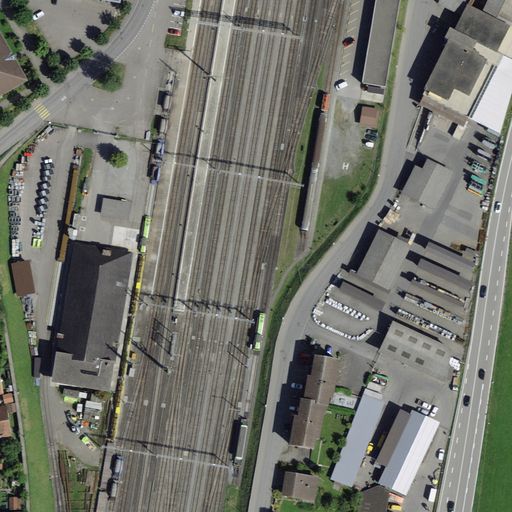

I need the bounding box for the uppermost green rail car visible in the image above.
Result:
[139,214,152,254]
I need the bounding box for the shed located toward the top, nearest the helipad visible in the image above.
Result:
[360,106,379,128]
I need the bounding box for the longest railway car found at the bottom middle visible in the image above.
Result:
[234,418,248,462]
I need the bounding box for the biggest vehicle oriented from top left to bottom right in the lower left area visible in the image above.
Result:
[79,433,99,452]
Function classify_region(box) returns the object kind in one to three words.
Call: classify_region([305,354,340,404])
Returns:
house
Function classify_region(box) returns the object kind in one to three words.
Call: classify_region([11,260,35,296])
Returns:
shed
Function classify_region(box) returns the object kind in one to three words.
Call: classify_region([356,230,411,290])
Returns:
building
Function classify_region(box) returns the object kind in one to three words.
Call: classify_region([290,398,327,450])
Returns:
house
